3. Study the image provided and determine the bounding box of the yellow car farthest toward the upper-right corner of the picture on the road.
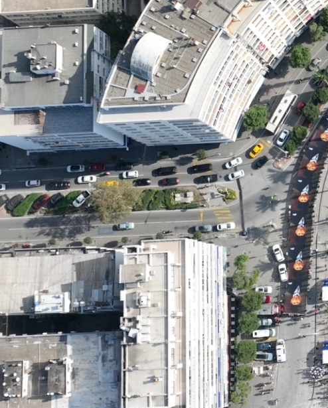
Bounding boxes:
[248,142,265,159]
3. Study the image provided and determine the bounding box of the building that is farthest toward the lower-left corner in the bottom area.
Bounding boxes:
[0,331,123,408]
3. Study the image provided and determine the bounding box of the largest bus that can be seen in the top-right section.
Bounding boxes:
[266,86,299,131]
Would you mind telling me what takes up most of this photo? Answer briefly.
buildings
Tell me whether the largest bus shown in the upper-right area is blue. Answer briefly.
No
